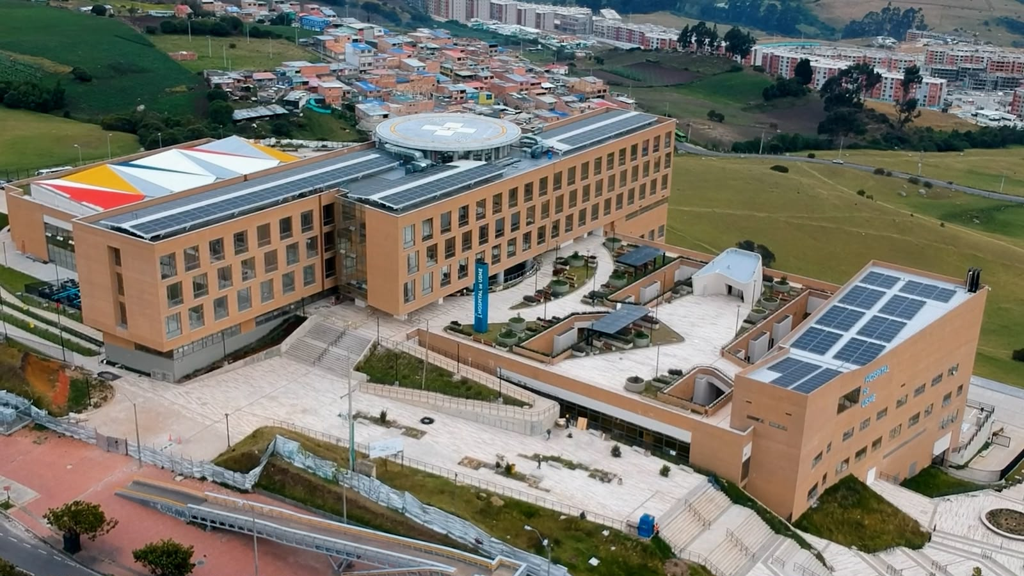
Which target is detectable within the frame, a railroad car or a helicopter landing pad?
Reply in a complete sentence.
Of the two, only a helicopter landing pad appears.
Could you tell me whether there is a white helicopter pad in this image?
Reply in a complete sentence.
Yes, you can see a white helicopter pad in this photo.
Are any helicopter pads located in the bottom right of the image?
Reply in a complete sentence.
No, I can find no helicopter pad in the bottom right of the image.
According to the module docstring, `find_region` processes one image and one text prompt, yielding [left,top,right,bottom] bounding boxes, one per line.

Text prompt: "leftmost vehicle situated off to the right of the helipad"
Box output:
[673,129,701,142]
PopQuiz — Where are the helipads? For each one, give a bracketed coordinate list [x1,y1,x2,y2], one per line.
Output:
[372,114,522,169]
